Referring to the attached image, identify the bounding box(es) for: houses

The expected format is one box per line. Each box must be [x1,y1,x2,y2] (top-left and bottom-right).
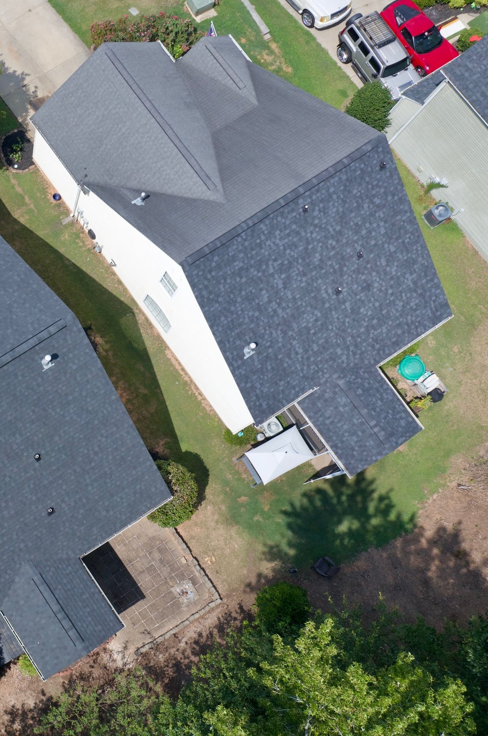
[0,236,181,685]
[26,33,458,479]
